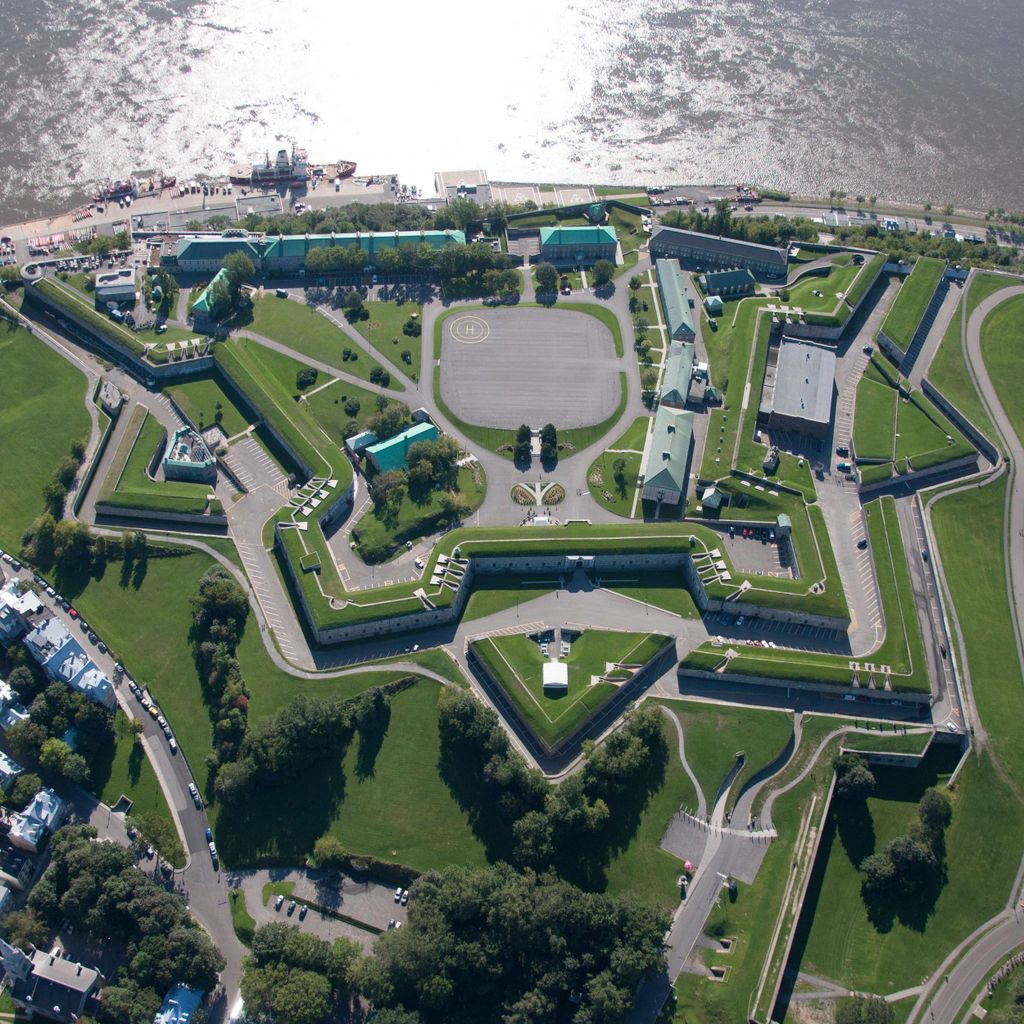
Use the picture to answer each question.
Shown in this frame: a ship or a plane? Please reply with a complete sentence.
Visible in the photo is a ship.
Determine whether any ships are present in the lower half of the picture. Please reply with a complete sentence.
No, no ship is visible in the lower half of the picture.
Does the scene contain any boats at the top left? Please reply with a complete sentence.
Yes, there is a boat at the top left.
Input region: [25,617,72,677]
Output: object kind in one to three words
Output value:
house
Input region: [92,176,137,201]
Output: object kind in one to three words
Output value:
boat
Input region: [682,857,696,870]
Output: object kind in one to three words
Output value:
umbrella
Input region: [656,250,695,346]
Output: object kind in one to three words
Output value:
building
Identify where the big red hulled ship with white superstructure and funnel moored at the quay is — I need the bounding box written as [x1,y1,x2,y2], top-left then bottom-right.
[225,129,356,184]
